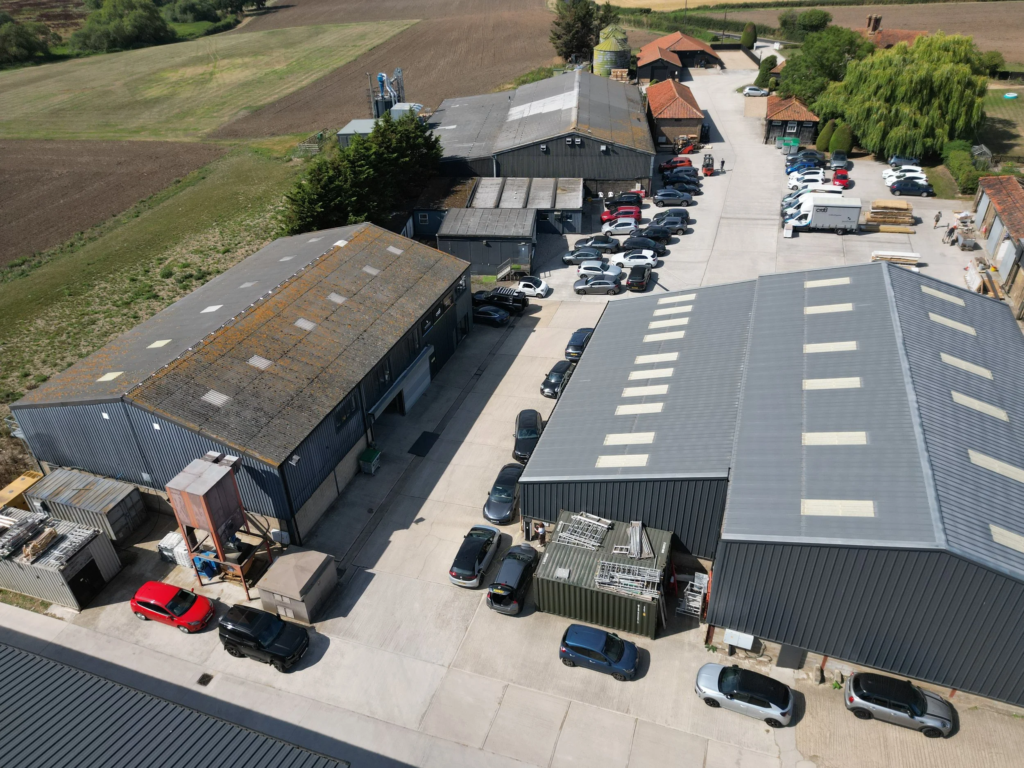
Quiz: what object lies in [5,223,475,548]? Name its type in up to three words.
shed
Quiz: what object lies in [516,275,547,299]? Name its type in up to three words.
car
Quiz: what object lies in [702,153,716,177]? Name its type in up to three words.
work vehicle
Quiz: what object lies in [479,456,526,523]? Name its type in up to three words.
car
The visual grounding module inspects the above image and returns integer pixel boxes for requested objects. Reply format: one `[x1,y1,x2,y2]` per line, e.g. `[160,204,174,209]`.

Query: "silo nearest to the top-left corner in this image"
[363,56,404,117]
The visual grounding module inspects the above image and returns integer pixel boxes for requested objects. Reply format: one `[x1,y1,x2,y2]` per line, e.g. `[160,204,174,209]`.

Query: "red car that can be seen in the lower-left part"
[126,578,216,634]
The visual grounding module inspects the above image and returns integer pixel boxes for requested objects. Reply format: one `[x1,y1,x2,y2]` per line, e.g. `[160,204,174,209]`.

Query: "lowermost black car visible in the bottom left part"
[210,598,313,673]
